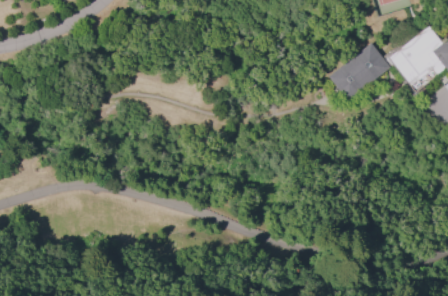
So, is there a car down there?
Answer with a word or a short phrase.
No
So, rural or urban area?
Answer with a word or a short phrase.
rural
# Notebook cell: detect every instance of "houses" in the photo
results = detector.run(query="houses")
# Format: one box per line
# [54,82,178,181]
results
[331,43,390,98]
[391,27,445,84]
